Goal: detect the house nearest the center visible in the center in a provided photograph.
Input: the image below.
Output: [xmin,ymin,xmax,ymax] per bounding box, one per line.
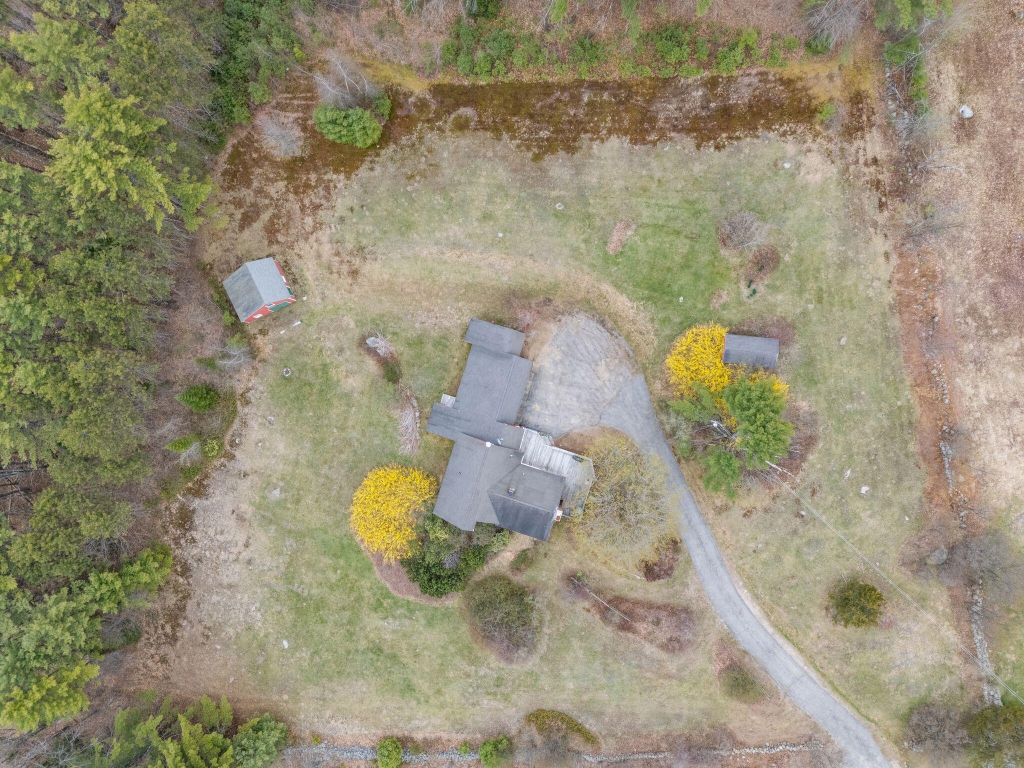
[426,318,566,543]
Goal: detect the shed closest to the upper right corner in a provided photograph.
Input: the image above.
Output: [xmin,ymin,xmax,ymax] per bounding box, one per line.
[719,334,779,368]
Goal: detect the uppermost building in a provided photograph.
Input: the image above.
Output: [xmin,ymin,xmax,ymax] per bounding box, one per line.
[224,257,297,324]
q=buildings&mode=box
[719,334,779,368]
[224,257,297,324]
[426,318,566,543]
